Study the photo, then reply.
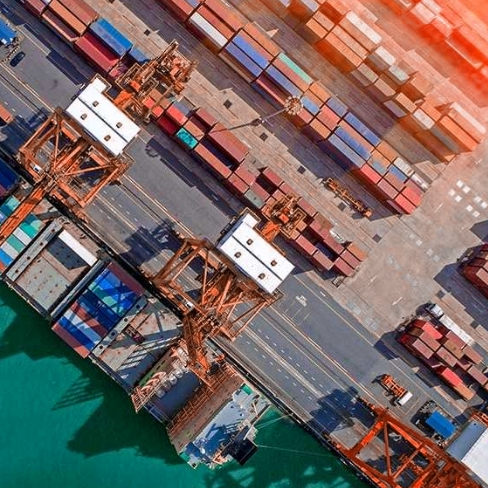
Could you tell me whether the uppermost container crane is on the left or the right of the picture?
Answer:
left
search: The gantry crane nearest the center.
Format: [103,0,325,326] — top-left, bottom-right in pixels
[141,177,335,390]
